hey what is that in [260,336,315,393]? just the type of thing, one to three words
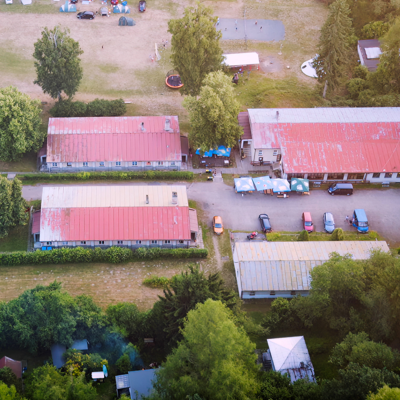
house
